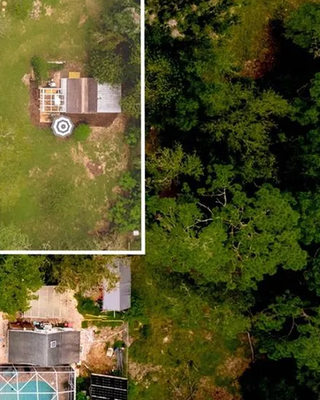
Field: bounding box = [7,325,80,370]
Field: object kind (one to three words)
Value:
shed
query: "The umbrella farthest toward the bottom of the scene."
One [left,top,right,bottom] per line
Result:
[50,116,71,137]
